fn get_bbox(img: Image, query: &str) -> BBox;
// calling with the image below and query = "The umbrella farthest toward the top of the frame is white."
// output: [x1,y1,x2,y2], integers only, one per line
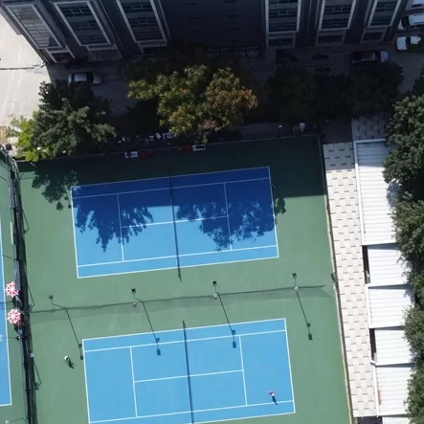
[6,283,20,296]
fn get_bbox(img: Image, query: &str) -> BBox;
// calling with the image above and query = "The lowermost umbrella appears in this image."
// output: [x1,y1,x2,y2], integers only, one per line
[9,310,24,323]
